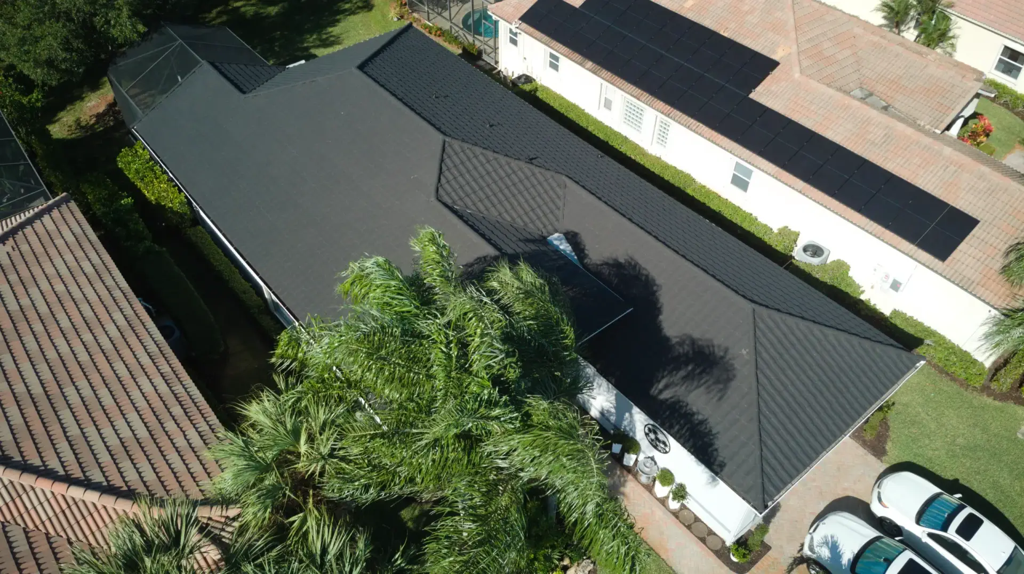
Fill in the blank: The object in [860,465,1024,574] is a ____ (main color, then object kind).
white car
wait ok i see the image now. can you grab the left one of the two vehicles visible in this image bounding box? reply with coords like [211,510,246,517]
[796,505,941,574]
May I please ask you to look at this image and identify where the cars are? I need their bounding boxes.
[796,505,941,574]
[860,465,1024,574]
